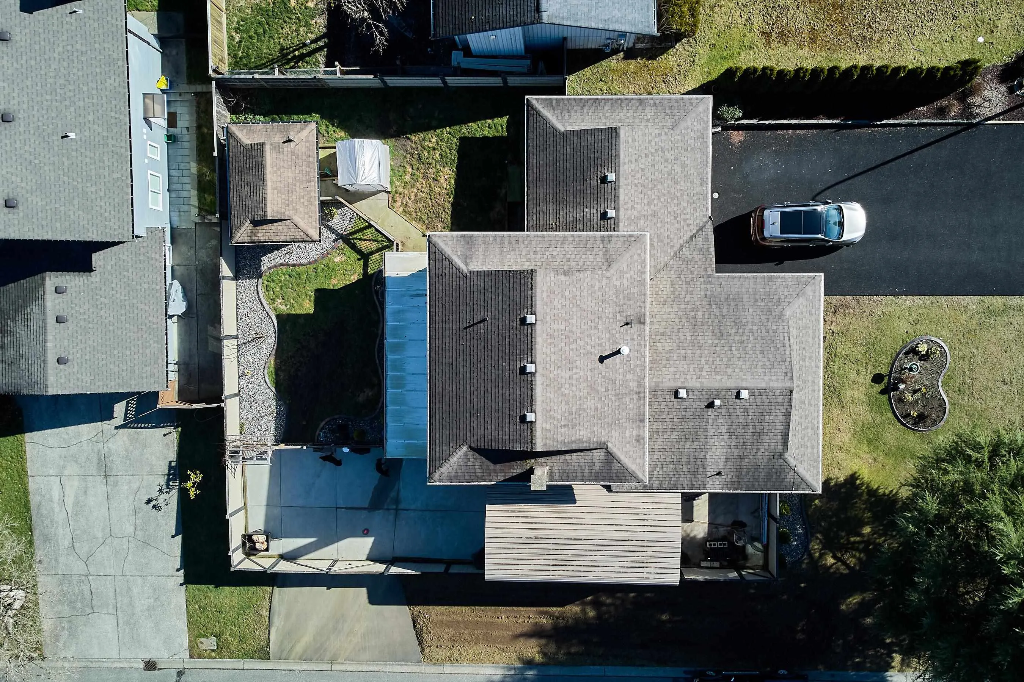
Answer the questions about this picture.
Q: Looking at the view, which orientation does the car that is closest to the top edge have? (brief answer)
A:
from side to side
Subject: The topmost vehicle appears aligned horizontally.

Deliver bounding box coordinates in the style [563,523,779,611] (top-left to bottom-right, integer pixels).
[749,197,866,250]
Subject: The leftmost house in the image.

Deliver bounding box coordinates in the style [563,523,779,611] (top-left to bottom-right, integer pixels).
[0,0,180,396]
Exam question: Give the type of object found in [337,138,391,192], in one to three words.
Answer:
tent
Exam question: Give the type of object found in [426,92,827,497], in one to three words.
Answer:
house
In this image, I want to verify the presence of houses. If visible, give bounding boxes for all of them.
[426,92,827,497]
[428,0,659,58]
[0,0,180,396]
